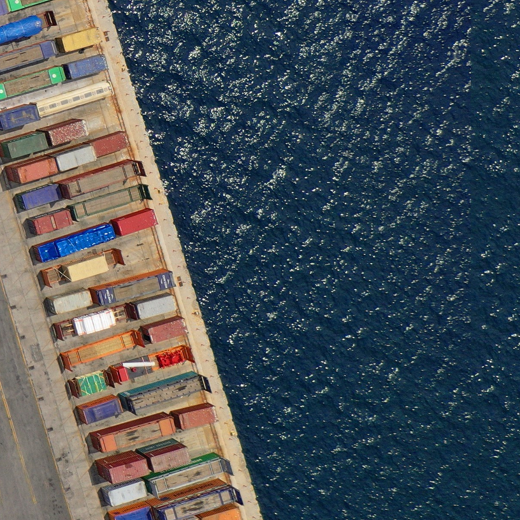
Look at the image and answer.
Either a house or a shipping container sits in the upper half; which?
shipping container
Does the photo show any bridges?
No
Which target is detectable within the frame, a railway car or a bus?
railway car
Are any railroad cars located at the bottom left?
No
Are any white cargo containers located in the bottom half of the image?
Yes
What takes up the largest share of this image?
water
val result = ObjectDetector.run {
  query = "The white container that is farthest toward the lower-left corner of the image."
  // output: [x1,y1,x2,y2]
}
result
[100,476,149,507]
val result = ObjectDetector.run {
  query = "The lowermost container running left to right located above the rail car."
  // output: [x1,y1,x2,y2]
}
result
[63,55,109,81]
